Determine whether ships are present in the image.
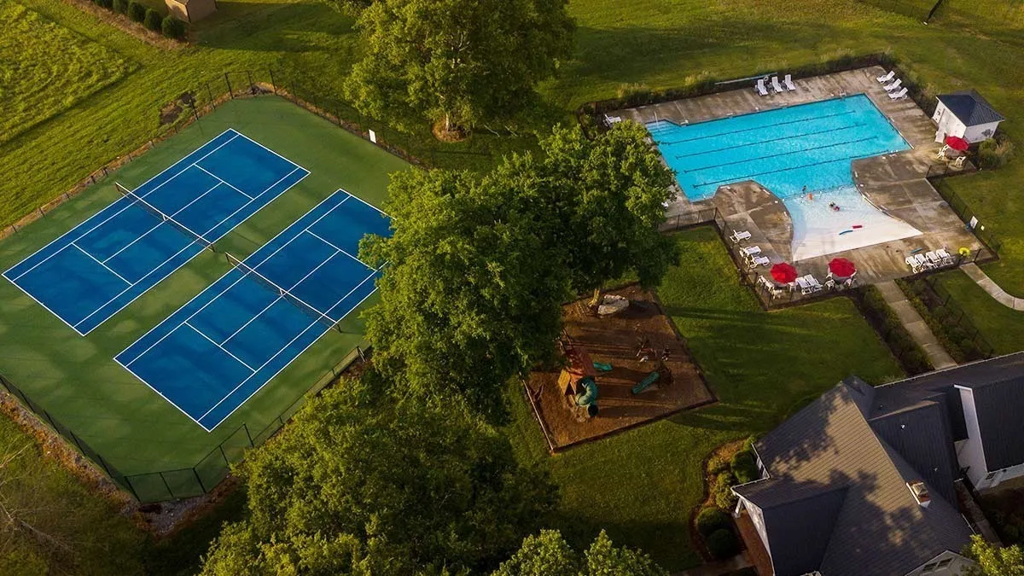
No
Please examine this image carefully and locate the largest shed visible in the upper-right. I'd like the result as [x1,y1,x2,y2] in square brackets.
[935,88,1007,140]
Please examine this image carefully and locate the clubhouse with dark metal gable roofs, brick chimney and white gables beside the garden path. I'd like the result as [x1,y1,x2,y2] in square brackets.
[729,351,1024,576]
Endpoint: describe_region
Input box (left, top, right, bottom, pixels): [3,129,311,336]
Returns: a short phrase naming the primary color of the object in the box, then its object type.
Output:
blue tennis court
